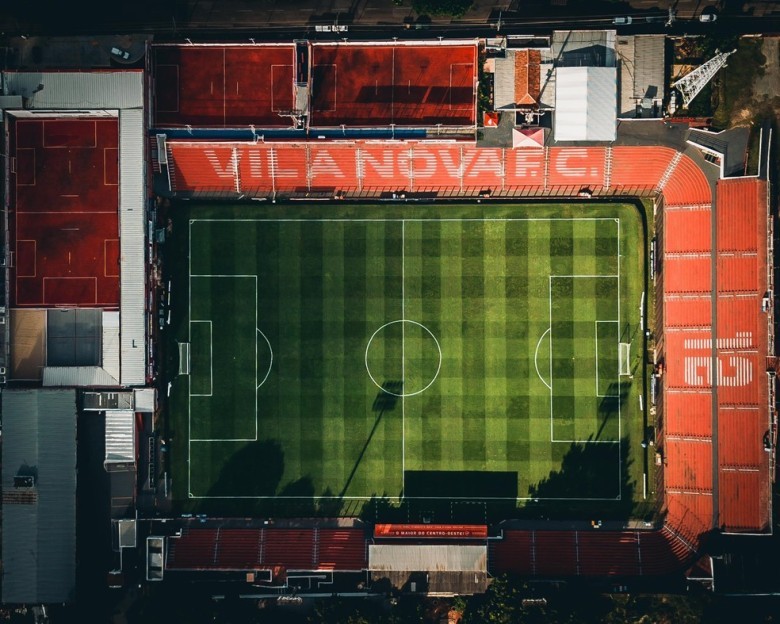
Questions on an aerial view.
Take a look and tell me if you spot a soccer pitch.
Yes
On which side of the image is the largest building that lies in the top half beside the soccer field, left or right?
left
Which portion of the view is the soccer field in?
center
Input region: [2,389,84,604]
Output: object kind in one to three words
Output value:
shed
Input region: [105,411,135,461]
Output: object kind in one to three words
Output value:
building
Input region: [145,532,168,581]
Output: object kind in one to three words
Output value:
house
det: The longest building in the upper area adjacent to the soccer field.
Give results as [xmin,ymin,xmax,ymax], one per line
[5,71,152,385]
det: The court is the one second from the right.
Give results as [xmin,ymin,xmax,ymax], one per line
[152,45,296,126]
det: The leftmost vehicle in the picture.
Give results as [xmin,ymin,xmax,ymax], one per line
[110,44,130,60]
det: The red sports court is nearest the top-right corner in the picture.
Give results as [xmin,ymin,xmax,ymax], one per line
[312,44,475,126]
